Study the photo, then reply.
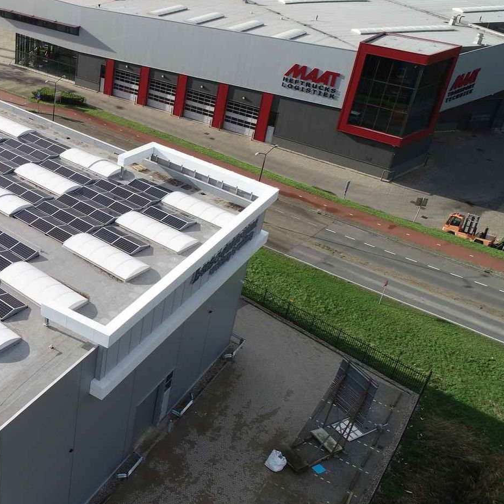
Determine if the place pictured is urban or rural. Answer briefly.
urban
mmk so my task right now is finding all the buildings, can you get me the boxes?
[0,0,504,181]
[0,101,280,504]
